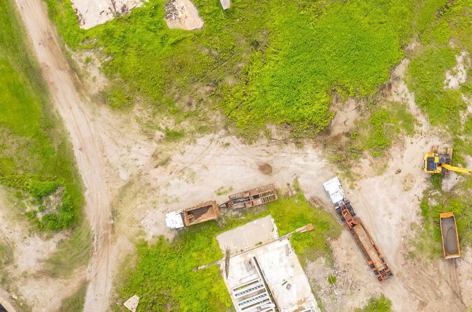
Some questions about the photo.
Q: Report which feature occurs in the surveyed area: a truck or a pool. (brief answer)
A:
truck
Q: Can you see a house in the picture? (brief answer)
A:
No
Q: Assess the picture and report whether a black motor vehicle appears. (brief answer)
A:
No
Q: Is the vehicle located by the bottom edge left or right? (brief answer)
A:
right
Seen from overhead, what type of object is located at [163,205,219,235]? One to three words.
truck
